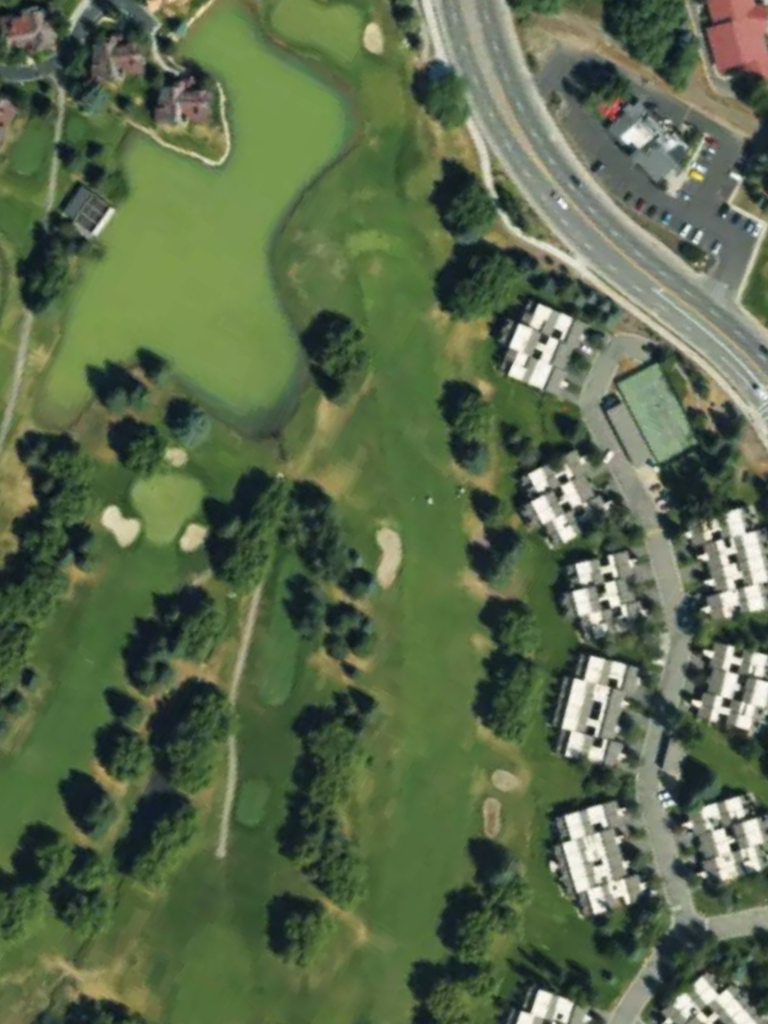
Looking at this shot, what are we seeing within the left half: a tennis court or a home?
home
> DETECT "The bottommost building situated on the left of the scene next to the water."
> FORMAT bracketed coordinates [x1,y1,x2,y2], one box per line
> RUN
[63,184,116,234]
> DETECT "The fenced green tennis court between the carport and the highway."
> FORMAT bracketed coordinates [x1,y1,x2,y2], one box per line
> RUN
[618,364,697,464]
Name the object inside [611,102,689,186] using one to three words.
building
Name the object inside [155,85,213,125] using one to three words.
house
